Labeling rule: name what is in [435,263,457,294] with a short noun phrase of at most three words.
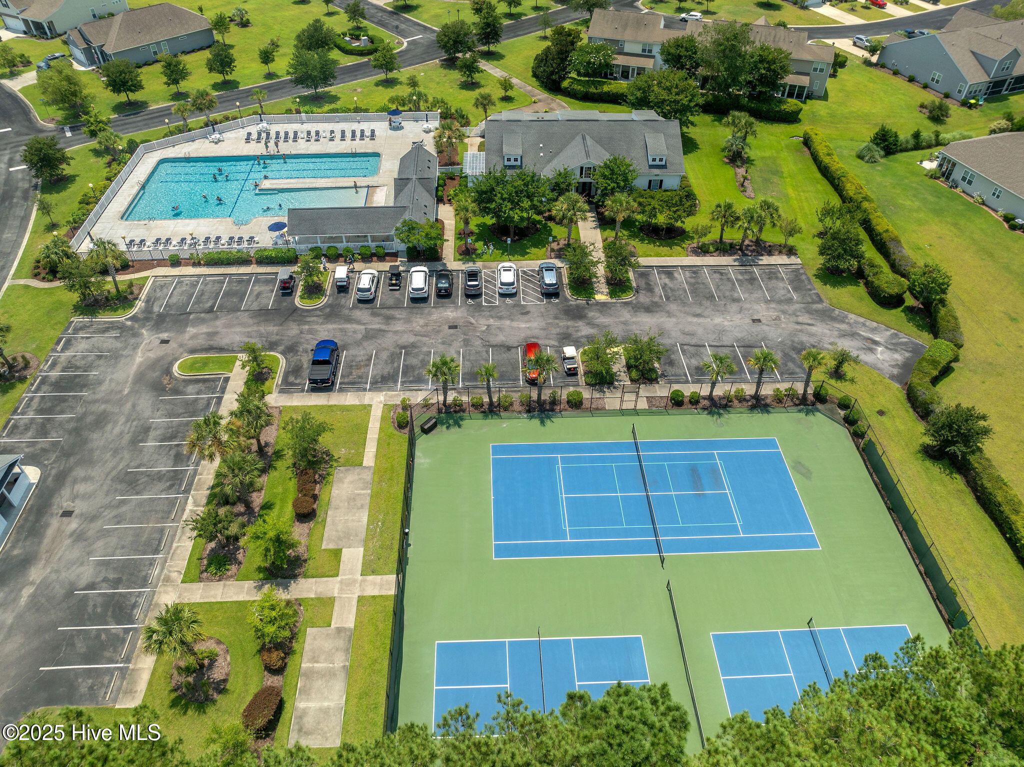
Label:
car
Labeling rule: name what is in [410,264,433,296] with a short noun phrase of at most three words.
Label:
car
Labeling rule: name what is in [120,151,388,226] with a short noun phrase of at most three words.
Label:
swimming pool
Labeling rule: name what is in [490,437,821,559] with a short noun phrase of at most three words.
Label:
tennis court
